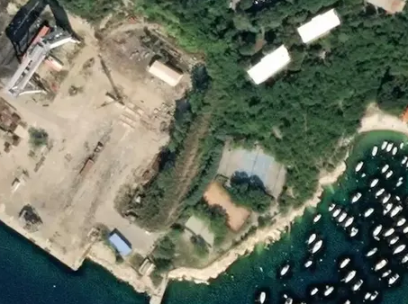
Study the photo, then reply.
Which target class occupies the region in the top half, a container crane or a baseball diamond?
container crane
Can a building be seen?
Yes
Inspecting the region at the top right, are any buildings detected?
Yes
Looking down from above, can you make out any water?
Yes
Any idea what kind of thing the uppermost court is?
tennis court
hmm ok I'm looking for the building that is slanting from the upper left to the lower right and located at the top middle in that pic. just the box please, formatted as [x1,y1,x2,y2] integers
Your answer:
[148,59,183,87]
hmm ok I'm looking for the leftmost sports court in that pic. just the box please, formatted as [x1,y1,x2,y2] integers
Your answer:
[184,217,217,248]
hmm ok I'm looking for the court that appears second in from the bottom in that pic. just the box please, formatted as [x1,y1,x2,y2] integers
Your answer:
[200,184,253,232]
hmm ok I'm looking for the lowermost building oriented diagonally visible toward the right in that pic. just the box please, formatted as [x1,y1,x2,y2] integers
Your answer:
[247,44,294,84]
